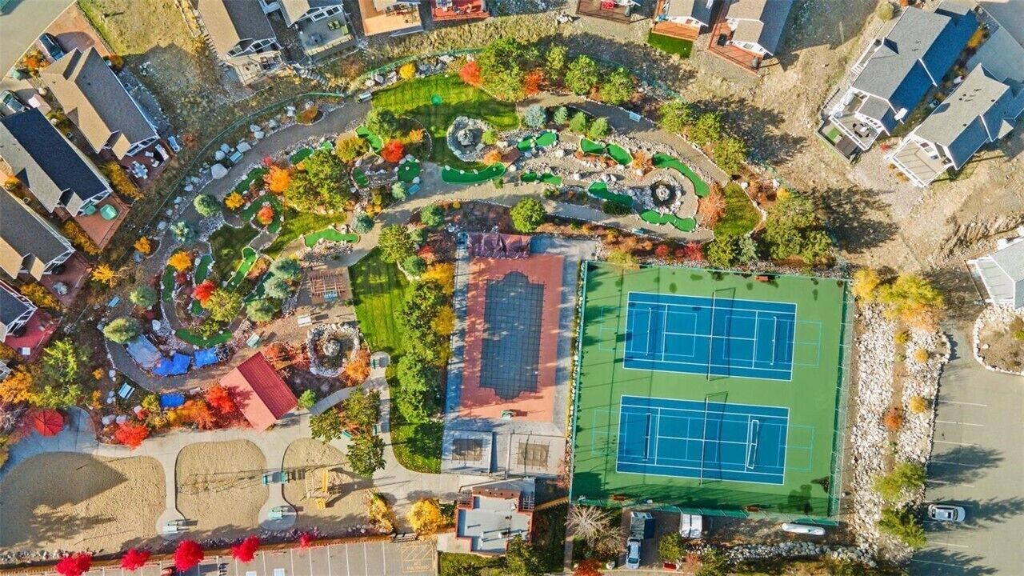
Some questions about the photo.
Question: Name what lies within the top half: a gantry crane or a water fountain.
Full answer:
Looking within the top half, you will find a water fountain.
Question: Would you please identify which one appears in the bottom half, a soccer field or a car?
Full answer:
The one visible in the bottom half is a car.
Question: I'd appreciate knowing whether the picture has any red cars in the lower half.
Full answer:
No, there's no red car to be seen in the lower half.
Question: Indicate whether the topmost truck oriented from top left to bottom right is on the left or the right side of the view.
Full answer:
You can find the topmost truck oriented from top left to bottom right on the left side of the picture.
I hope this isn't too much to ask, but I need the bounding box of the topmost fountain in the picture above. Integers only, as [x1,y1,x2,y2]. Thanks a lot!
[444,116,490,161]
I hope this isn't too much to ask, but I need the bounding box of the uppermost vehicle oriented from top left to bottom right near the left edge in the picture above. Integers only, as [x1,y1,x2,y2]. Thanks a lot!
[32,27,66,64]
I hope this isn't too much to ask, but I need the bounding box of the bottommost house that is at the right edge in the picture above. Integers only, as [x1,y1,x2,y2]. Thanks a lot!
[961,229,1024,307]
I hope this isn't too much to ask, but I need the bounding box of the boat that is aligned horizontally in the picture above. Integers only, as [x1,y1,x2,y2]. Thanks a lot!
[783,523,825,536]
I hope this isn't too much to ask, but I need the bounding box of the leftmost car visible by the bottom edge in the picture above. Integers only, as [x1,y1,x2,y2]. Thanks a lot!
[626,539,642,571]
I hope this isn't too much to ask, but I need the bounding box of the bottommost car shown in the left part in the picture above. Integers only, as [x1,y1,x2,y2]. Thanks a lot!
[0,84,27,113]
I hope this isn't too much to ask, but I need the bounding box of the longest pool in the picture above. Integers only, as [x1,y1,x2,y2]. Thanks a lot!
[442,234,598,482]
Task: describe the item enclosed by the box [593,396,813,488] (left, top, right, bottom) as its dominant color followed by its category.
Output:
blue tennis court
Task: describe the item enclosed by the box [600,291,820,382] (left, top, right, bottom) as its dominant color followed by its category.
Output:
blue tennis court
